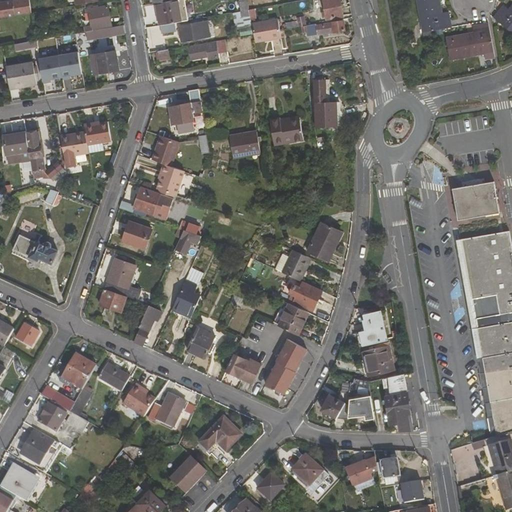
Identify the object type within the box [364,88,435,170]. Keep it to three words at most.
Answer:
roundabout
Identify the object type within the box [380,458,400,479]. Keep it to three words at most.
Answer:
house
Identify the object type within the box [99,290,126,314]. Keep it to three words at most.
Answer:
house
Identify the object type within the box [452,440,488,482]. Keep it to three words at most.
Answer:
building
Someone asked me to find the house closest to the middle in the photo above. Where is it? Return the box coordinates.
[276,250,312,281]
